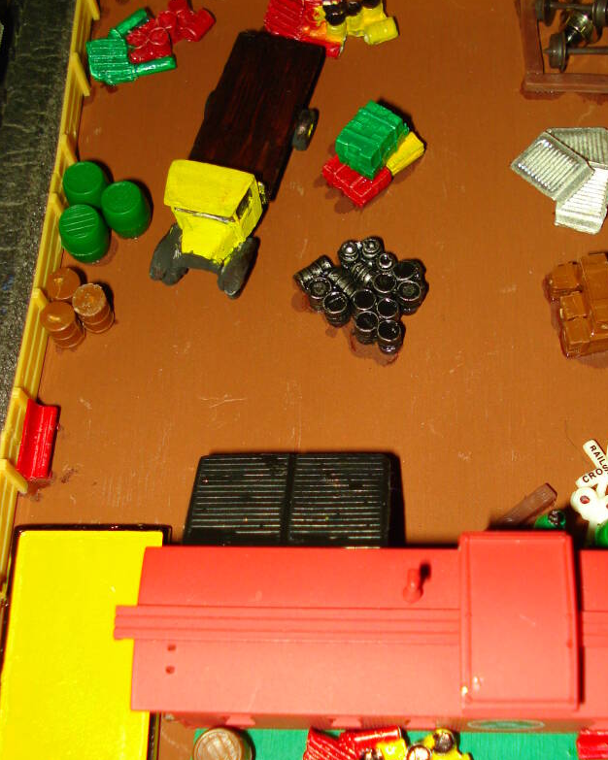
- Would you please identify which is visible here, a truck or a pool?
truck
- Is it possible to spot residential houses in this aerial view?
No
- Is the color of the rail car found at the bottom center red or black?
red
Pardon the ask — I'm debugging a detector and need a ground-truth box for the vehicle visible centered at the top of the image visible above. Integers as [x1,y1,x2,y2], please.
[155,33,326,304]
